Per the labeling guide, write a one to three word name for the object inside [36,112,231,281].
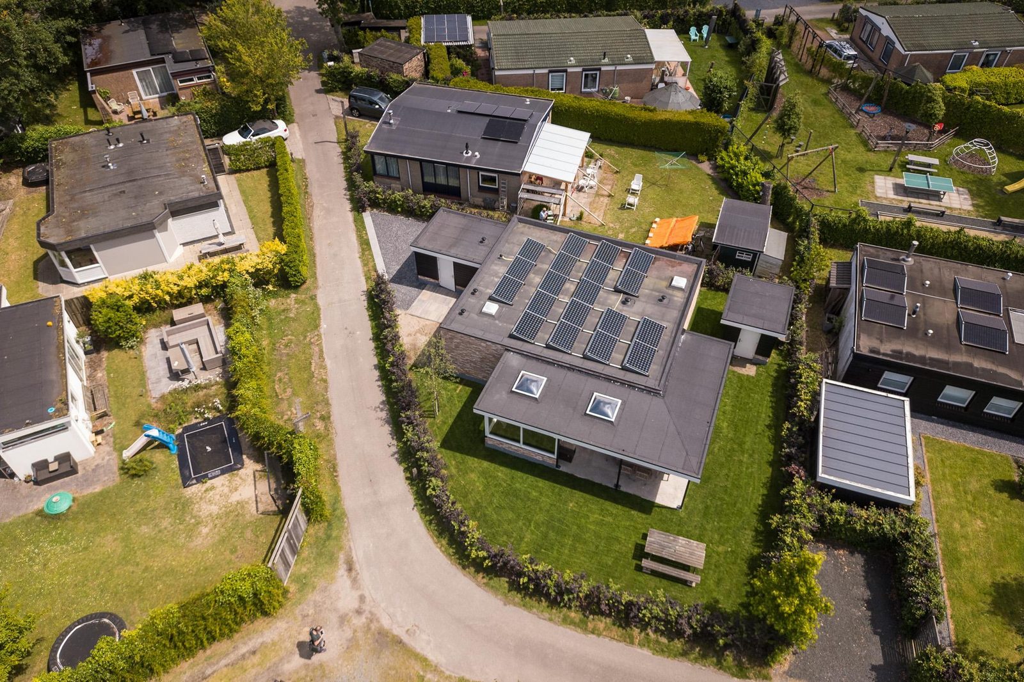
house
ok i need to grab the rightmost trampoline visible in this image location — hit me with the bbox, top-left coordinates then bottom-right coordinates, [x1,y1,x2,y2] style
[179,417,246,491]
